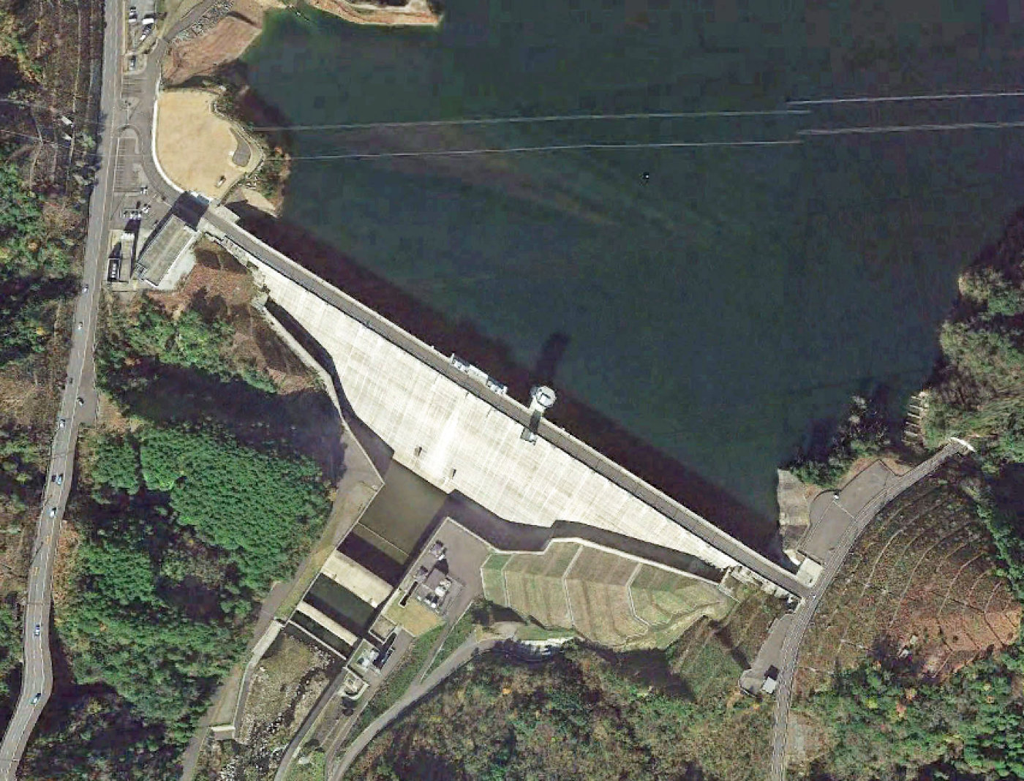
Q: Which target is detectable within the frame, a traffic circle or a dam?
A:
dam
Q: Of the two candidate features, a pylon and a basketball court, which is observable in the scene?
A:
pylon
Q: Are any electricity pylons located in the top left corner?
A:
Yes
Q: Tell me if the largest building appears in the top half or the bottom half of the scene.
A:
top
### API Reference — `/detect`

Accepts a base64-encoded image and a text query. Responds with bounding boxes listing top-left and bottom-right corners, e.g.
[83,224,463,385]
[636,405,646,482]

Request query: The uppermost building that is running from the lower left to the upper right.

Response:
[138,215,198,287]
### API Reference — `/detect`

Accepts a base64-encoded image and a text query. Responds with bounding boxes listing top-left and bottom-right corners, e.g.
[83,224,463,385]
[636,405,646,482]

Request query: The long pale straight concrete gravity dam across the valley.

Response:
[201,202,805,613]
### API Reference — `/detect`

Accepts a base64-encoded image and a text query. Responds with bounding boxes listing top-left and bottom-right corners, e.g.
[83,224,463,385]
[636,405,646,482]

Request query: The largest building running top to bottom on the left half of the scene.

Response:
[120,233,135,282]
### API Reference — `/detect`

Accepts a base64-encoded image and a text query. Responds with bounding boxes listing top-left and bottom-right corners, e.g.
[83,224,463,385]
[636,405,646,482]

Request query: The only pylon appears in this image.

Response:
[61,117,89,148]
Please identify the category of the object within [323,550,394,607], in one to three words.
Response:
dam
